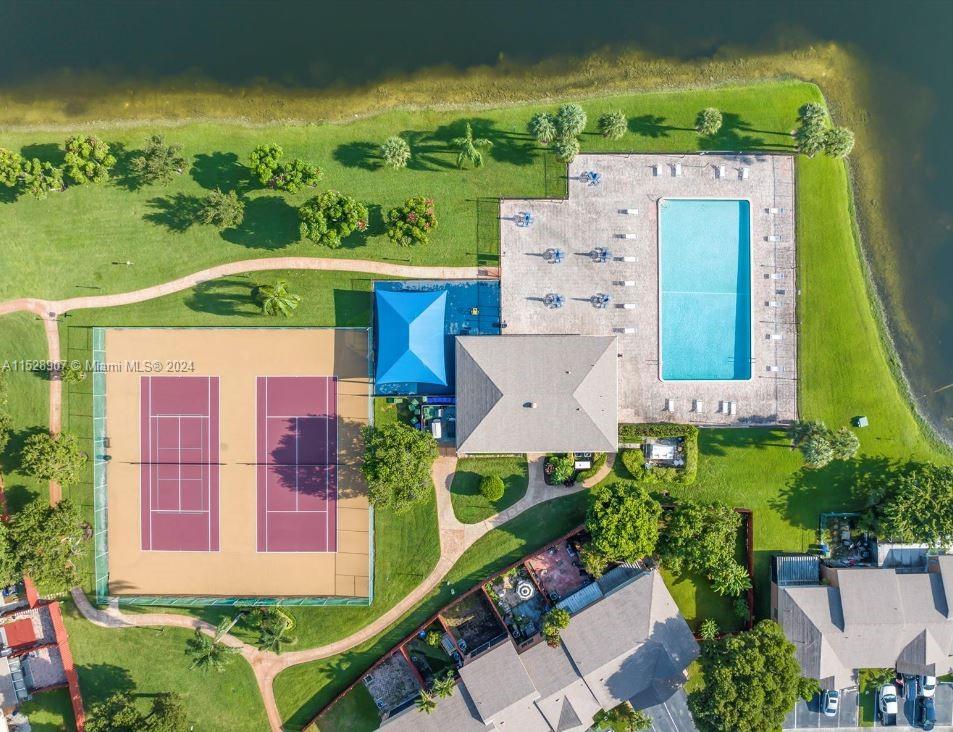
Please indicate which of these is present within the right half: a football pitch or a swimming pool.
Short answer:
swimming pool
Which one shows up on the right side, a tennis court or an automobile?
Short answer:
automobile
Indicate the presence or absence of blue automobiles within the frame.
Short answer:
Yes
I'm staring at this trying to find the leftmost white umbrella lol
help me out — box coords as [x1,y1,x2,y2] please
[517,582,533,599]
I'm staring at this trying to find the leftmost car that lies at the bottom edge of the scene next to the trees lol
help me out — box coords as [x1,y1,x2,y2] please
[823,691,842,721]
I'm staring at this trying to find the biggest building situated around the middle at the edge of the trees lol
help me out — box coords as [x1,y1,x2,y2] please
[454,335,619,454]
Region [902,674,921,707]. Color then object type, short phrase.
blue car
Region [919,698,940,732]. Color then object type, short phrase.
blue car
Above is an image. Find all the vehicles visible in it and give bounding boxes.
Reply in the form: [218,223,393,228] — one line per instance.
[902,674,921,707]
[879,686,901,730]
[920,676,940,699]
[919,698,940,732]
[823,691,842,721]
